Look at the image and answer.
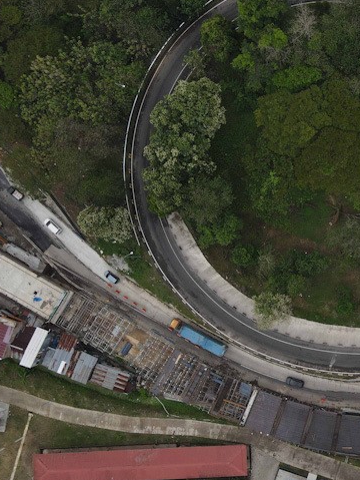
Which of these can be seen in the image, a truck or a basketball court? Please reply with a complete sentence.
The one in the frame is a truck.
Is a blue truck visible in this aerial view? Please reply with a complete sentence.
Yes, the picture does show a blue truck.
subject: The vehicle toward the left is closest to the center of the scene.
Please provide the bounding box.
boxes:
[101,270,120,285]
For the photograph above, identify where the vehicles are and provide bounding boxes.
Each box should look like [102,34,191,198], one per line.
[41,218,61,235]
[101,270,120,285]
[4,184,24,202]
[284,377,305,387]
[167,318,226,358]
